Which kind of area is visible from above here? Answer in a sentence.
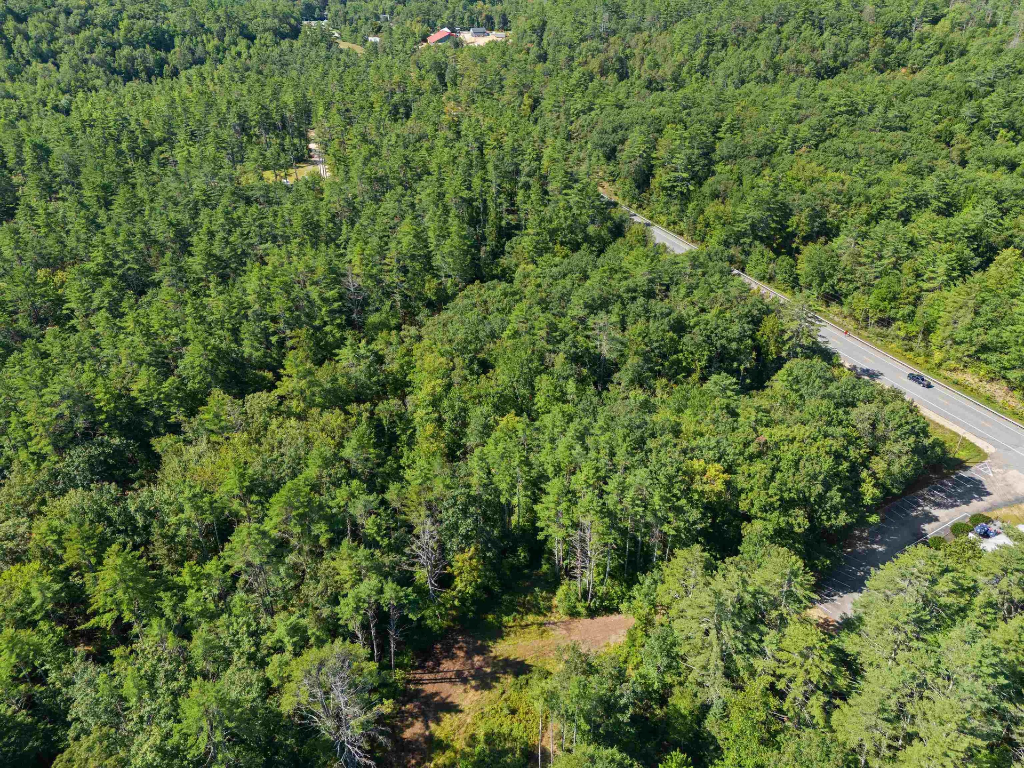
This image shows a forest.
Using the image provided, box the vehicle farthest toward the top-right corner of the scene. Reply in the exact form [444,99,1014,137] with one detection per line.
[905,375,932,389]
